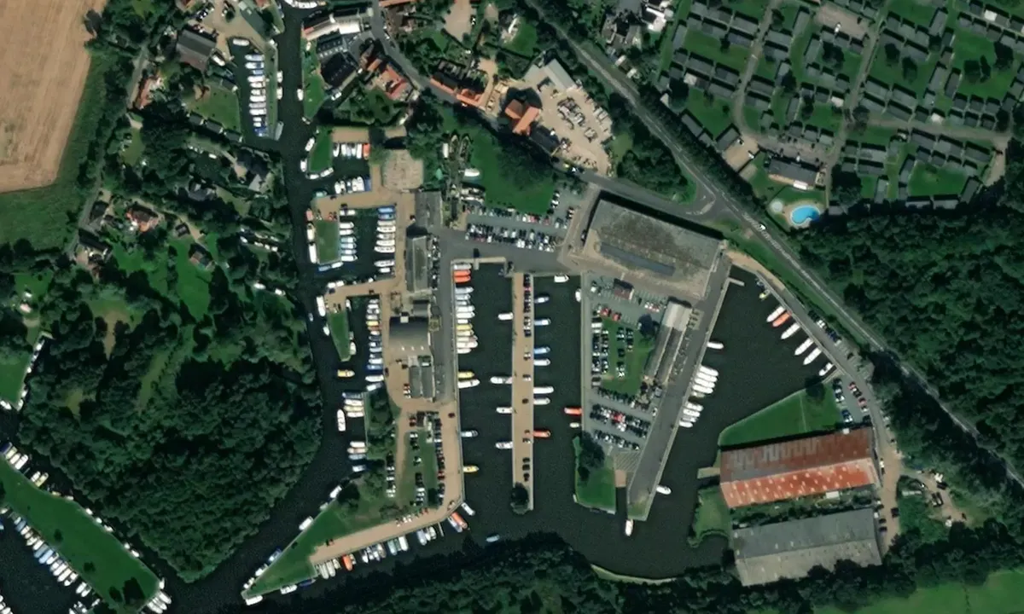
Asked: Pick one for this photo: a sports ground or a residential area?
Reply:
residential area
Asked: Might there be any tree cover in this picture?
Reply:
Yes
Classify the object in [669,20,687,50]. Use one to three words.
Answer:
house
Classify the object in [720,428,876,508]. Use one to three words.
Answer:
shed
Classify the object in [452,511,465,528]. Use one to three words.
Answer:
boat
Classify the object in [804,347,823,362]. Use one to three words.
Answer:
boat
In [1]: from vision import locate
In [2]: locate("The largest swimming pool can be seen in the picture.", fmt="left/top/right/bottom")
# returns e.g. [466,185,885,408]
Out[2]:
[784,200,824,232]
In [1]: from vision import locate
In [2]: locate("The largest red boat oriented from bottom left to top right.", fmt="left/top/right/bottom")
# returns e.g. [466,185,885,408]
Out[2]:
[774,310,793,325]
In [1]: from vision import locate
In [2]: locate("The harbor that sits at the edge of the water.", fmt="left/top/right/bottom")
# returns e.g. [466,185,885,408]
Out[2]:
[7,51,841,601]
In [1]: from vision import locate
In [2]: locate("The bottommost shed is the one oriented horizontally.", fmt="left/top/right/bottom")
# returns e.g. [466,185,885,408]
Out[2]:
[731,508,882,587]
